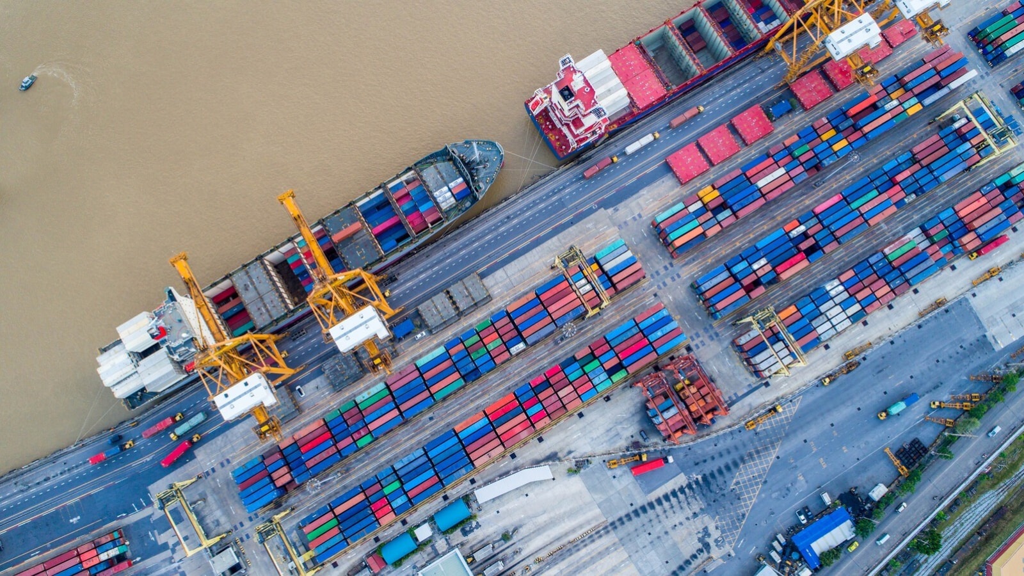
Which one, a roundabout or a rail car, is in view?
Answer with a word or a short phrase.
rail car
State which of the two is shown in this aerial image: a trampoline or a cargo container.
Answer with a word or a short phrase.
cargo container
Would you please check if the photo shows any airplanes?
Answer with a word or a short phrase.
No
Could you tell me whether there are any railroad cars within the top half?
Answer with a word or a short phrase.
No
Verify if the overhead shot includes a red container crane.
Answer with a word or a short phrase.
Yes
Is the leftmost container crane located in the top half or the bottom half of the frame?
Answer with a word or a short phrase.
bottom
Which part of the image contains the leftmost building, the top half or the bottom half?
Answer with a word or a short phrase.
bottom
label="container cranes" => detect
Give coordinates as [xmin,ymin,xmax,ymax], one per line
[727,305,807,382]
[167,251,310,444]
[749,0,880,95]
[155,470,238,556]
[925,94,1019,180]
[255,502,331,576]
[828,0,951,49]
[548,246,610,325]
[276,189,407,378]
[655,352,729,426]
[626,370,697,446]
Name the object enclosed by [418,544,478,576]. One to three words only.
building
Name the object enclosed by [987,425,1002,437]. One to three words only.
vehicle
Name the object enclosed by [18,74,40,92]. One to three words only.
boat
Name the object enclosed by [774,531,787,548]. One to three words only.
vehicle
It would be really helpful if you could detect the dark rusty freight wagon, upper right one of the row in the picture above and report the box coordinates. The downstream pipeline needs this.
[978,505,1010,535]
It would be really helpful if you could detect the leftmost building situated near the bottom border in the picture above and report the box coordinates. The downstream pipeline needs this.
[210,541,250,576]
